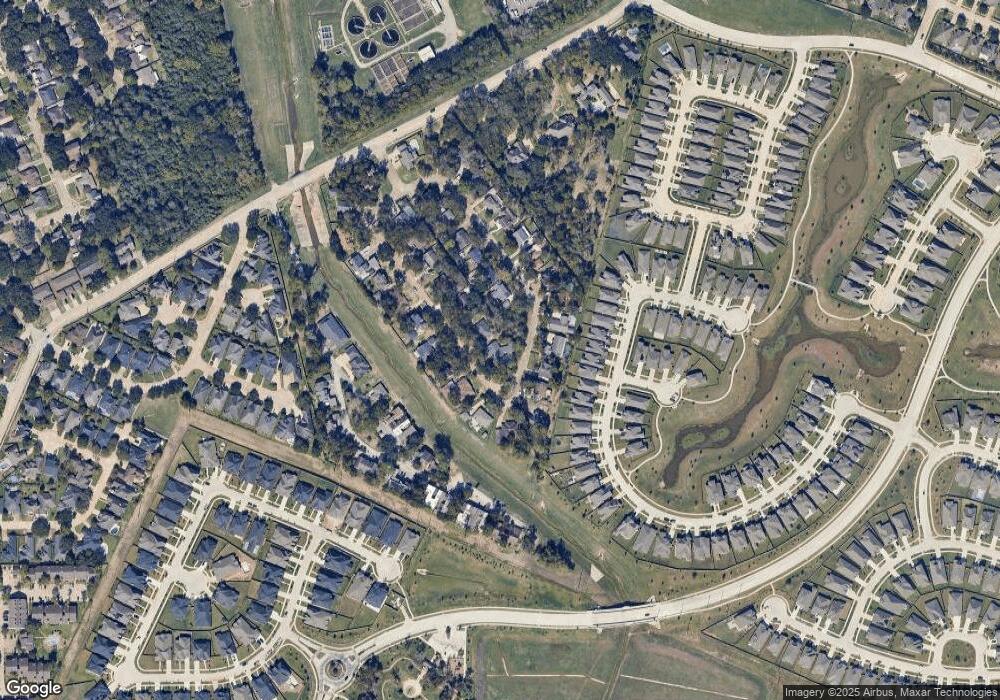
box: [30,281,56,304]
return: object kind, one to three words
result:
building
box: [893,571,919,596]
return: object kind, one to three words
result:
house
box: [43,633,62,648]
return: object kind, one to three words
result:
swimming pool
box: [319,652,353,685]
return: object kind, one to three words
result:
roundabout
